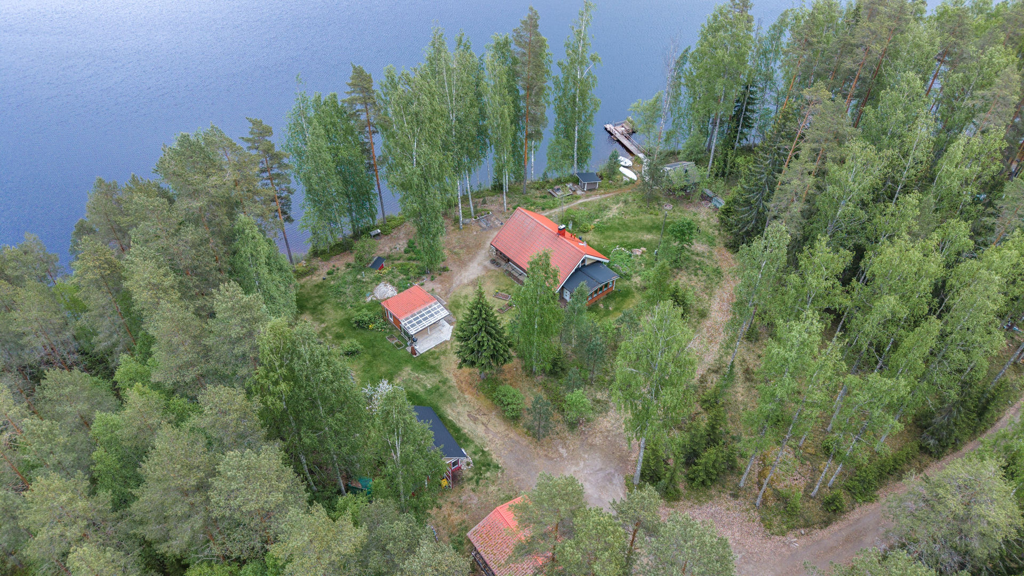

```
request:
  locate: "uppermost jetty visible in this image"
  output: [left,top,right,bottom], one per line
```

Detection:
[604,117,648,155]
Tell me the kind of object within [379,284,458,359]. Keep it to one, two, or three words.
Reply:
building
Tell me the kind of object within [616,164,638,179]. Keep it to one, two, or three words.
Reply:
boat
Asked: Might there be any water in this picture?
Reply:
Yes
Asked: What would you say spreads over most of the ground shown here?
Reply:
trees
